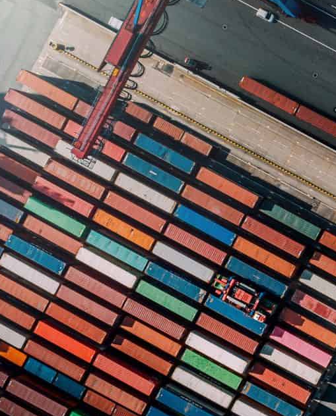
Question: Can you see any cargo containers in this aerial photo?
Yes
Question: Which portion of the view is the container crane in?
top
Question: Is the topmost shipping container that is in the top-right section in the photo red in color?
Yes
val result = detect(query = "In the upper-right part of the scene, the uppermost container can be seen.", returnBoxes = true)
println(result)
[239,75,301,117]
